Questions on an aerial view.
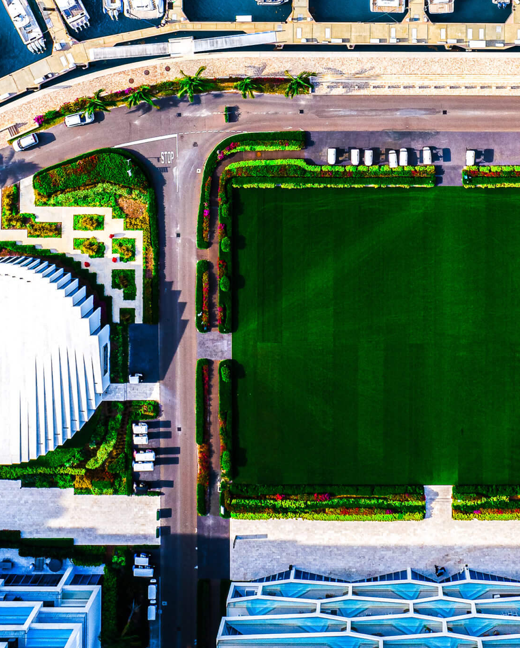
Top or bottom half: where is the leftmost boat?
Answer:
top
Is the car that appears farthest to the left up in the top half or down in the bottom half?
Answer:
top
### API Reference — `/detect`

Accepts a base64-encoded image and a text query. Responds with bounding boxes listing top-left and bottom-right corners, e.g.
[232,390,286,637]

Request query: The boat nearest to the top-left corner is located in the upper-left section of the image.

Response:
[5,0,45,51]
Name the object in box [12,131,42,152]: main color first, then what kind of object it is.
white car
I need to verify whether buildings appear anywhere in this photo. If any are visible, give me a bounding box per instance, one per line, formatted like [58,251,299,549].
[0,254,110,467]
[0,566,118,648]
[216,564,520,648]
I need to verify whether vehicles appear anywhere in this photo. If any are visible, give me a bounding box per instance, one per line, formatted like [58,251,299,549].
[133,447,159,461]
[132,457,157,471]
[350,145,360,165]
[132,421,151,435]
[133,550,152,566]
[327,144,336,165]
[422,143,432,165]
[130,368,141,384]
[465,145,475,166]
[149,596,159,620]
[364,145,373,166]
[399,144,408,166]
[149,575,159,599]
[388,146,397,168]
[64,111,96,127]
[132,562,157,577]
[132,431,152,444]
[133,477,152,492]
[12,131,42,152]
